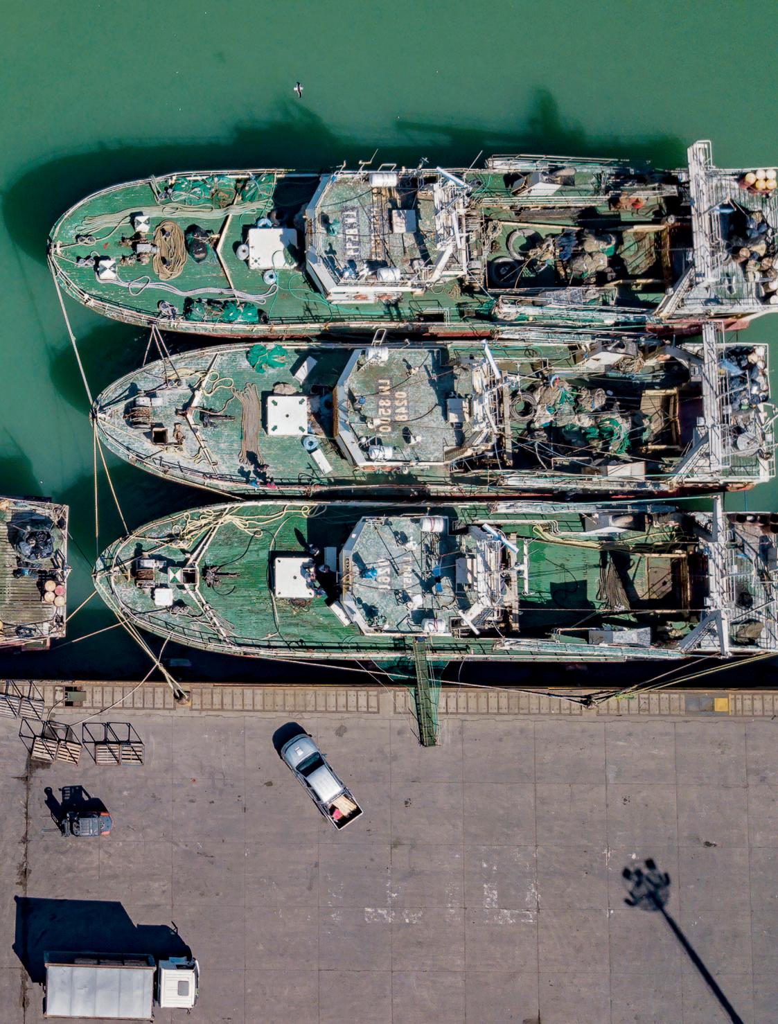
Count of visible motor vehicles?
three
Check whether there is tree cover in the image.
No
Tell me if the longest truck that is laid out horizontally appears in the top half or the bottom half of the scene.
bottom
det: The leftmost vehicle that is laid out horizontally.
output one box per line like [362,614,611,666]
[43,814,109,840]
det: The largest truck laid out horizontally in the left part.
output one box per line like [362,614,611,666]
[44,956,205,1019]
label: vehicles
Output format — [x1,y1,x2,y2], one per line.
[44,956,205,1019]
[285,730,364,832]
[43,814,109,840]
